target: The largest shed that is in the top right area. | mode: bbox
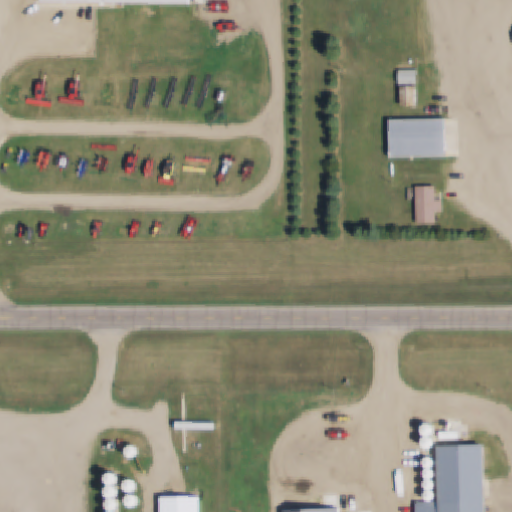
[388,118,444,157]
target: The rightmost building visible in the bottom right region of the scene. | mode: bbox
[436,446,485,512]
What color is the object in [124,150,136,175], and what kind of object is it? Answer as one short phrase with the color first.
red vehicle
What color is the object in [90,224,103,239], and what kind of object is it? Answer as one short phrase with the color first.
red vehicle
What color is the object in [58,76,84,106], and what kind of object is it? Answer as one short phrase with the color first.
red work vehicle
